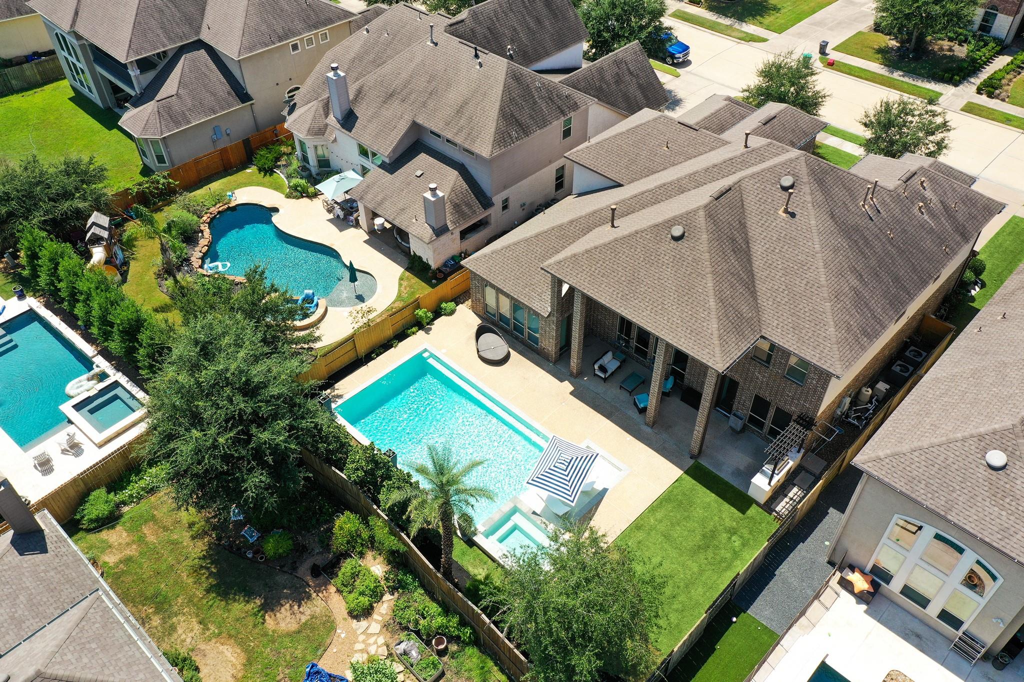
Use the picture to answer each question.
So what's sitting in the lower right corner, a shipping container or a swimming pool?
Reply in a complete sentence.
What appears in the lower right corner is a swimming pool.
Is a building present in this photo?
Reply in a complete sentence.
Yes, the picture does show a building.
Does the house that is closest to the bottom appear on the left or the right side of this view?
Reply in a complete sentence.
It is on the left.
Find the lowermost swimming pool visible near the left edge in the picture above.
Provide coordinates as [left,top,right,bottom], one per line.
[0,294,165,453]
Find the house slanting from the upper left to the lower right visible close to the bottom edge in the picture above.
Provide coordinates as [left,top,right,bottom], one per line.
[0,466,177,682]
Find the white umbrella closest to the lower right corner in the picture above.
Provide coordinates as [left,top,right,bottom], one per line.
[527,436,598,506]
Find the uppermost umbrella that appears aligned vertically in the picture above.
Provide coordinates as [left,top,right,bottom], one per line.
[346,254,358,293]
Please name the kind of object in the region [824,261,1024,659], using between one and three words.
house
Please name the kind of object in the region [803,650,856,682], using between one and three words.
swimming pool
